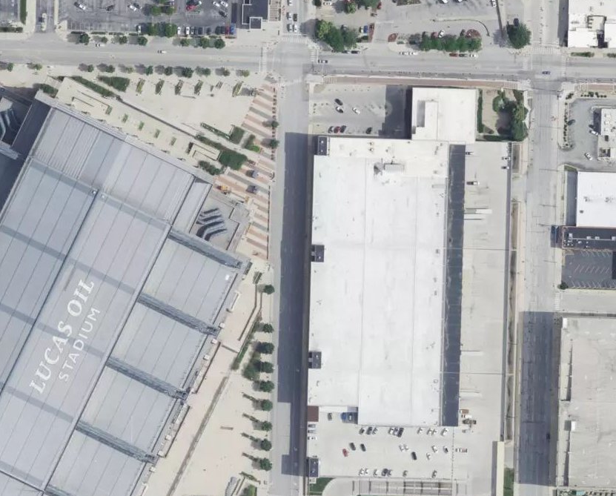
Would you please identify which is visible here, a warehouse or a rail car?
warehouse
